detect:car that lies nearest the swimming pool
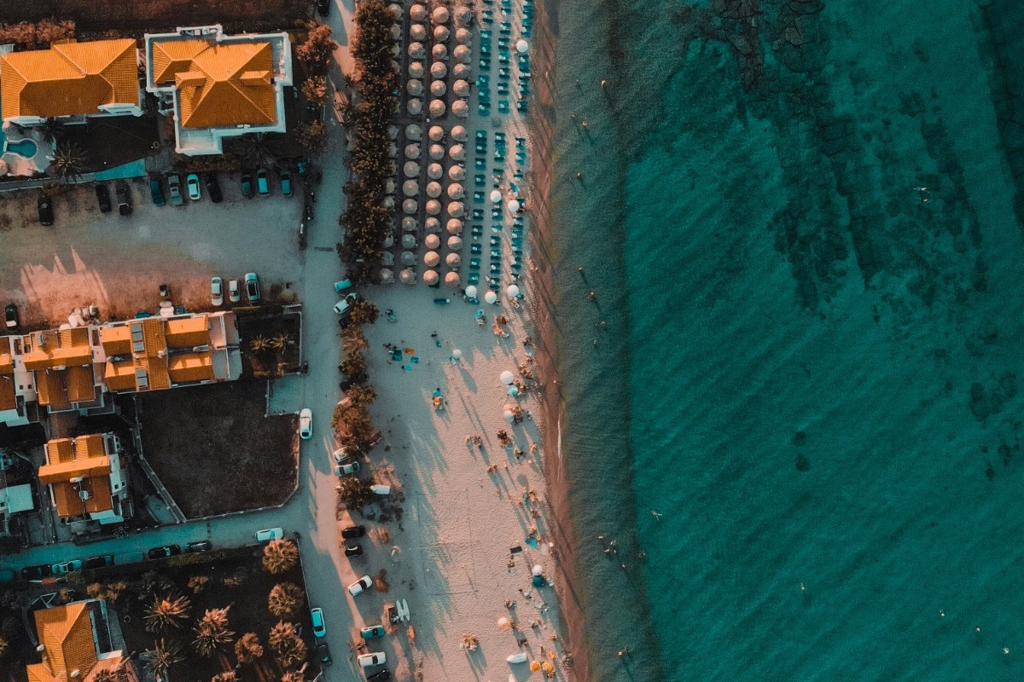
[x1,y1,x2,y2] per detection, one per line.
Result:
[38,194,55,224]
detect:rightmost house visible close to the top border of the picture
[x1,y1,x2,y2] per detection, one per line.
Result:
[144,22,300,162]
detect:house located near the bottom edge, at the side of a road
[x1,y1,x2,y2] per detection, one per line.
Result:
[26,596,133,682]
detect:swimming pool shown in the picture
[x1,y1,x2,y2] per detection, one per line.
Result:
[3,138,38,157]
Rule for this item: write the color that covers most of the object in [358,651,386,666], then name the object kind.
white car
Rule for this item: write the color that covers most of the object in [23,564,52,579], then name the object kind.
black car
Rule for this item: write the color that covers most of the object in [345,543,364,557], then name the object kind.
black car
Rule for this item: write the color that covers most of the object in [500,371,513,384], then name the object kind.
white umbrella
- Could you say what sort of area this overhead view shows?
beach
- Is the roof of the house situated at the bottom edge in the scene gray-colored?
No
